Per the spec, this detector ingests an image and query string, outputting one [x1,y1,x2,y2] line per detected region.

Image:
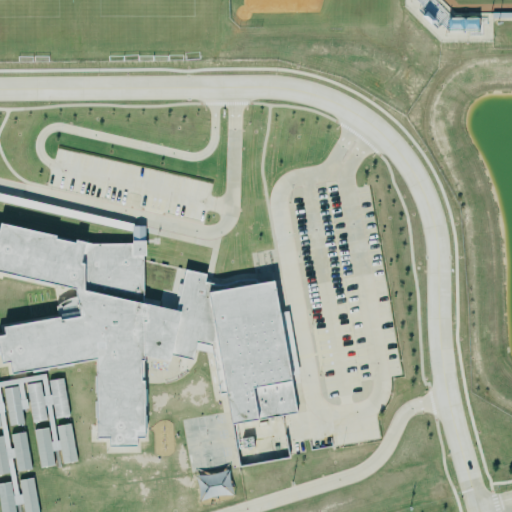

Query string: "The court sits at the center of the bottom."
[184,414,232,472]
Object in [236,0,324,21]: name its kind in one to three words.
baseball field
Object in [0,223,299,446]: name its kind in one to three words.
building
